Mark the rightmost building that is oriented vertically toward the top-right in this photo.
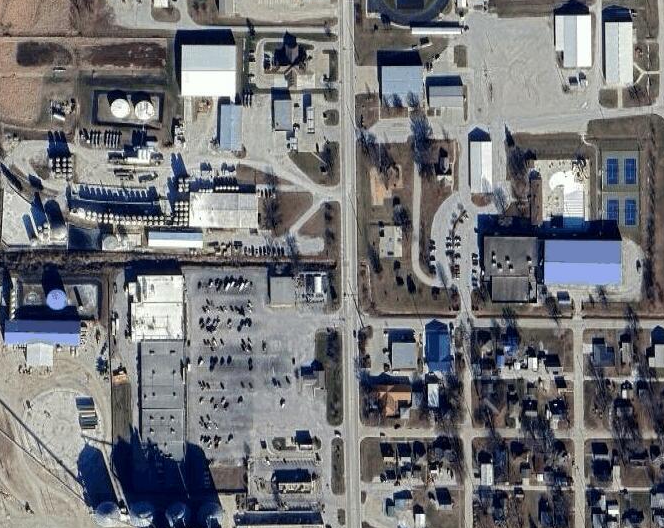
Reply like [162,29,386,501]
[605,22,633,86]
